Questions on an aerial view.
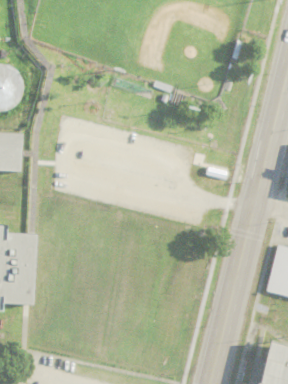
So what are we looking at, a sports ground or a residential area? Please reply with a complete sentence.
This image shows a sports ground.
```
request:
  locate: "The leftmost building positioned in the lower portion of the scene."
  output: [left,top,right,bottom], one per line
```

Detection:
[0,225,38,312]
